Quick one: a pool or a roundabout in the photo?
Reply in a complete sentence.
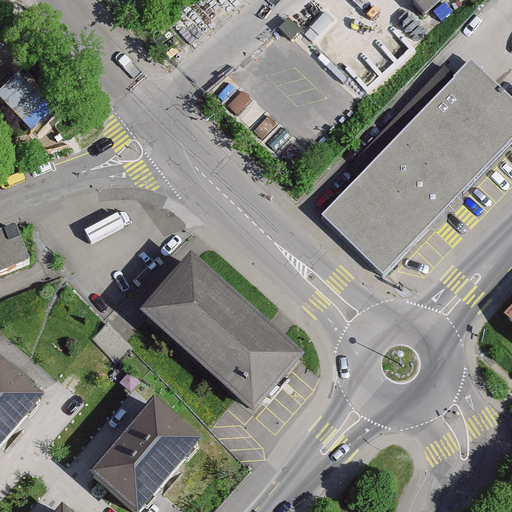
This aerial view contains a roundabout.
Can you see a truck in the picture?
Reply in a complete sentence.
Yes, there's a truck here.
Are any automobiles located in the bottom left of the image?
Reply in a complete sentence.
Yes, the scene does show an automobile in the bottom left of the image.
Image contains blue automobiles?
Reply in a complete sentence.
Yes, you can see a blue automobile in this photo.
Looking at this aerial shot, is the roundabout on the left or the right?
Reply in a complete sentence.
The roundabout appears in the right half of the scene.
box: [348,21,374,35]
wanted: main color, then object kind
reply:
yellow work vehicle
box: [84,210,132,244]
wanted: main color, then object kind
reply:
white truck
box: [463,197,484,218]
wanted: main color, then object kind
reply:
blue car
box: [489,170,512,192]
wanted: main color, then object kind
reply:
white vehicle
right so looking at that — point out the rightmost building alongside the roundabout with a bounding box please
[322,59,512,278]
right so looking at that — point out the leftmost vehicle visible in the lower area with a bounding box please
[63,396,84,416]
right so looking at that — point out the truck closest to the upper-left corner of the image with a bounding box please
[112,50,142,80]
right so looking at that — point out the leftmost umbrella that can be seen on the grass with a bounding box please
[120,374,140,392]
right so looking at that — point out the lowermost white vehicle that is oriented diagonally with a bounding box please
[329,443,350,463]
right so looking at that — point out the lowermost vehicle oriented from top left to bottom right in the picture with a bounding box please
[89,292,108,312]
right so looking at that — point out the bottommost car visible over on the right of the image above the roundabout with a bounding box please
[404,258,430,275]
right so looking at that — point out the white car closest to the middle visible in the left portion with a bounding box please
[162,234,184,256]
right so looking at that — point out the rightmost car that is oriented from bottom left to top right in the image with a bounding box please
[463,16,483,36]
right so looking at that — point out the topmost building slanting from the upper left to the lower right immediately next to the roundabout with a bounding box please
[138,250,305,413]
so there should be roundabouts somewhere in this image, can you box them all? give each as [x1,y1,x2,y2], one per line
[340,302,464,426]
